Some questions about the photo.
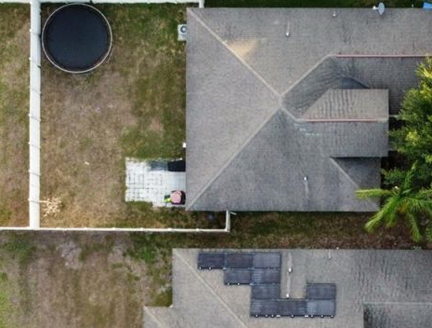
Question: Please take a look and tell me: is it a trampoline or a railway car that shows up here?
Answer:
trampoline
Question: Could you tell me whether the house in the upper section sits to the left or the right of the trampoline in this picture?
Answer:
to the right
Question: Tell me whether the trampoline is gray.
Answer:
No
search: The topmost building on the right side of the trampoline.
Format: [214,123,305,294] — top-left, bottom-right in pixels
[186,7,432,212]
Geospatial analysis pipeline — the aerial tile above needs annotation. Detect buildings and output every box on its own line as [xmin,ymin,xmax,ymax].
[143,248,432,328]
[186,7,432,212]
